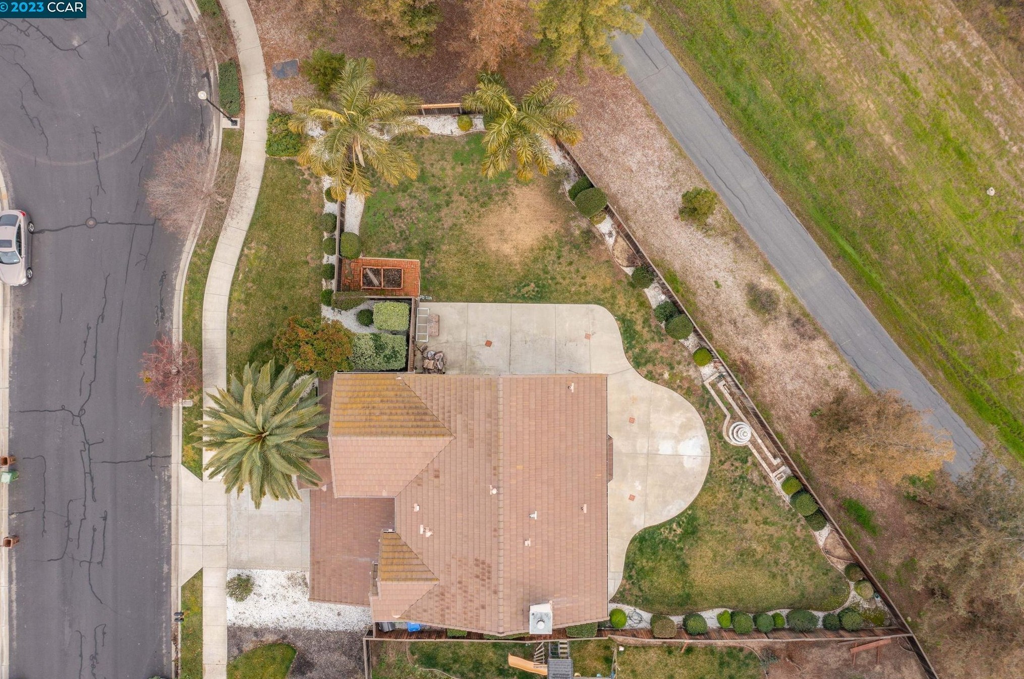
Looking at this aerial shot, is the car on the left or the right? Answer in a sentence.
The car appears in the left half of the scene.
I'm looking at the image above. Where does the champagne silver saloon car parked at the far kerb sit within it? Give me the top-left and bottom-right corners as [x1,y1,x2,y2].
[0,209,34,286]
